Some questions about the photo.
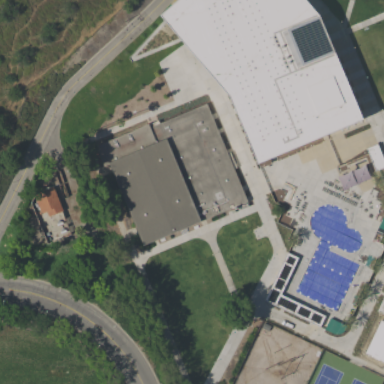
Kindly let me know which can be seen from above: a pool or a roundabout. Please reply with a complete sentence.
It is a pool that can be seen here.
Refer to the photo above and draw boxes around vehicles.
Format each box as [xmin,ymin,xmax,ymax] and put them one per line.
[46,231,52,240]
[284,321,295,328]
